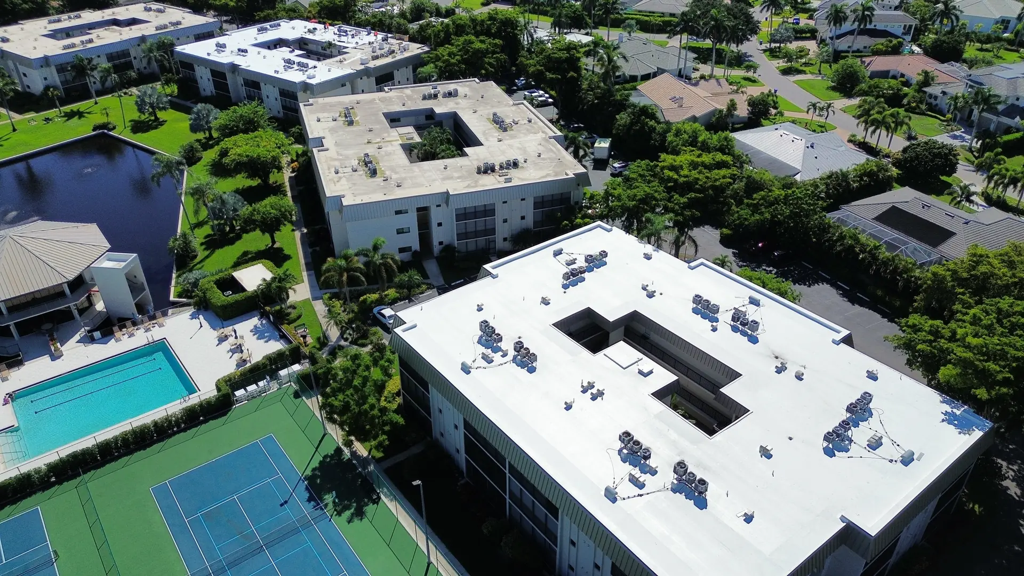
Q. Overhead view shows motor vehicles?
Yes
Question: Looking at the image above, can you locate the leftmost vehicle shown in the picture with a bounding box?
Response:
[368,303,398,327]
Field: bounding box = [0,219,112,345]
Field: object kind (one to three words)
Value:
building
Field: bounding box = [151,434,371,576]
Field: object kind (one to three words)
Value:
tennis court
